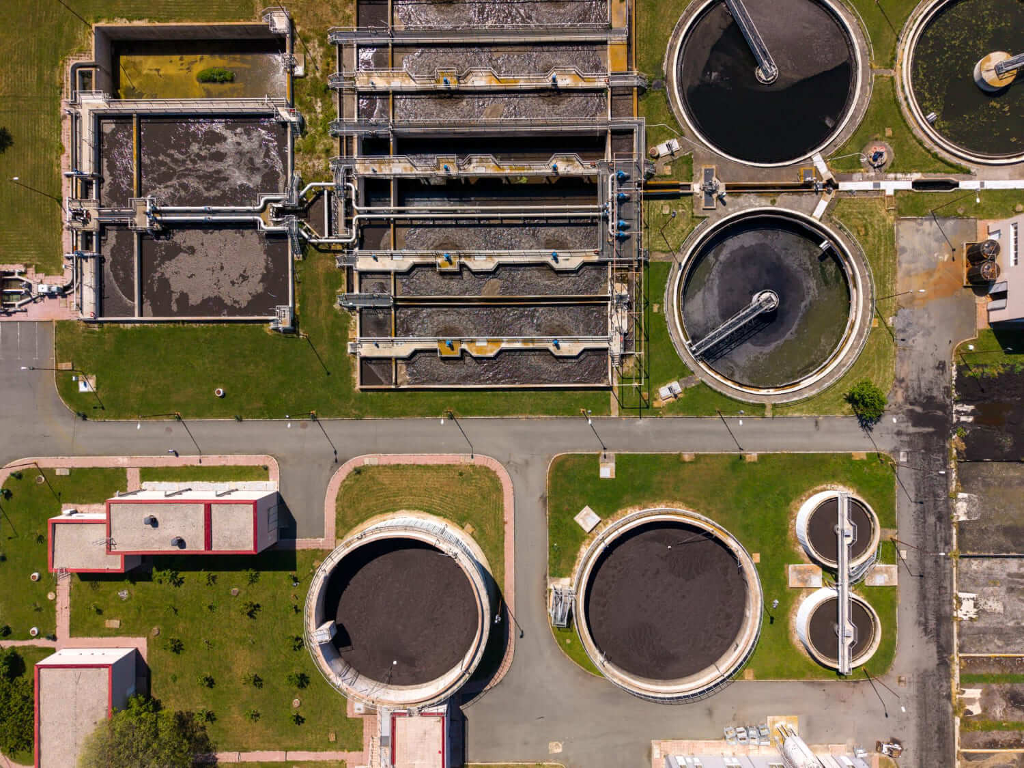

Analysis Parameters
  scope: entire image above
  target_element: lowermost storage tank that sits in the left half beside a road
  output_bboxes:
[302,512,490,714]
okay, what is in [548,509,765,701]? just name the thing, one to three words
storage tank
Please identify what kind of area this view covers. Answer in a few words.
industrial area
